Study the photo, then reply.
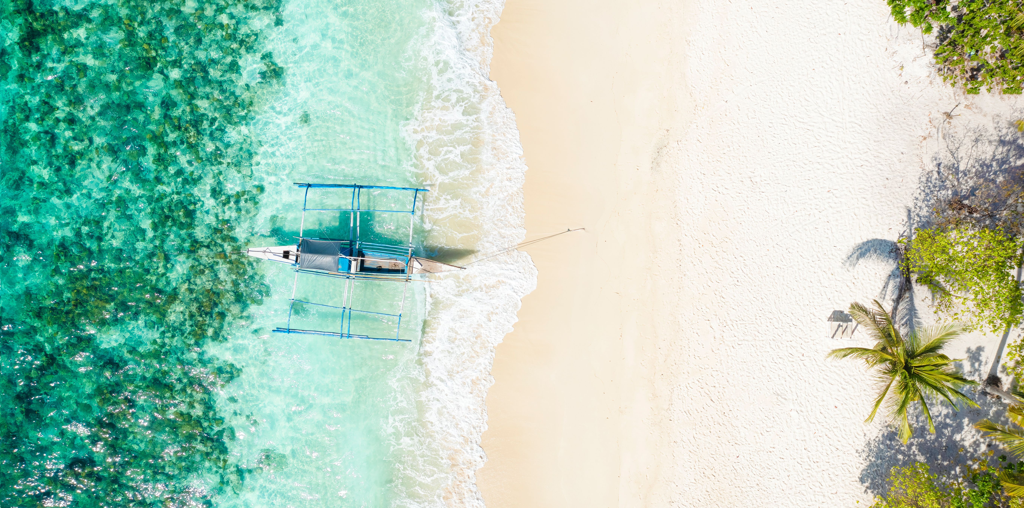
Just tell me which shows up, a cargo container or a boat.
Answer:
boat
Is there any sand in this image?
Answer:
Yes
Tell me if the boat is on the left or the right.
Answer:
left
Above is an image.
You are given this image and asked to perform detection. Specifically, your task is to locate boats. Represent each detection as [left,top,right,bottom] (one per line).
[241,182,467,342]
